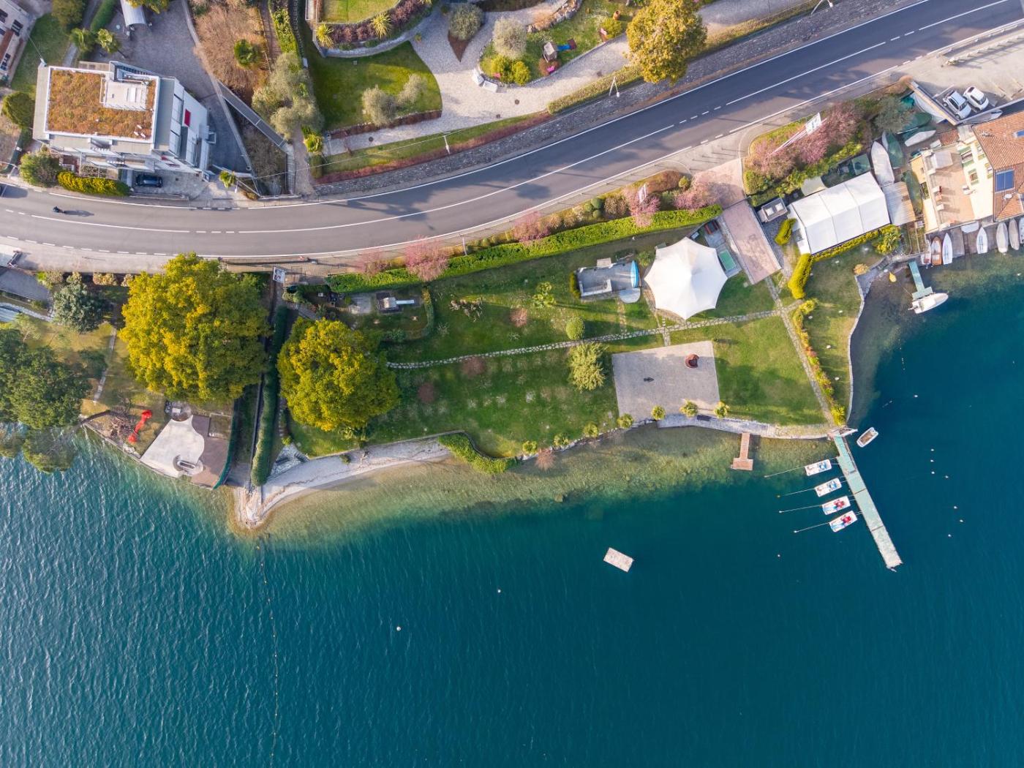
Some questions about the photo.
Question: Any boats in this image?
Yes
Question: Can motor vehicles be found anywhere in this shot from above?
Yes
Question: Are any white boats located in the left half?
No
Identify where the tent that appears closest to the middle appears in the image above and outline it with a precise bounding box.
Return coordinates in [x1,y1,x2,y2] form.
[638,235,728,327]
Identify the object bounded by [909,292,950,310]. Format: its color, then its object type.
white boat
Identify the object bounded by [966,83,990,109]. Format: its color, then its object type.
white car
